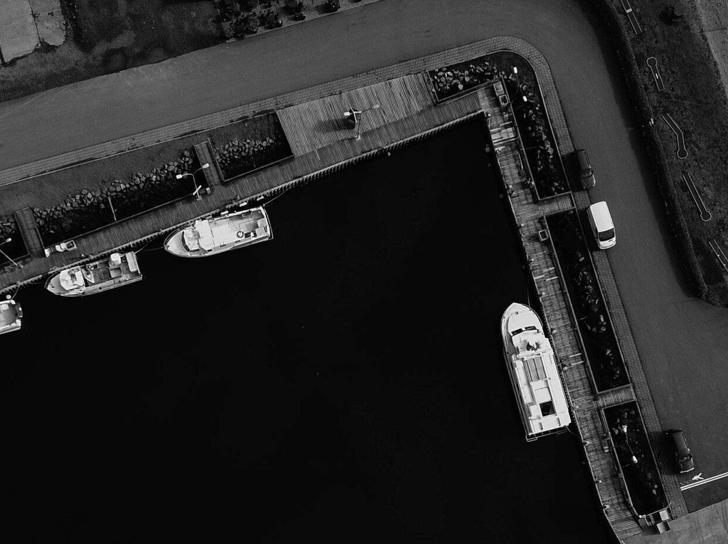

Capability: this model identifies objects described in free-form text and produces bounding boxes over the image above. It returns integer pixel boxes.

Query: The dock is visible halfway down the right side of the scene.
[477,77,643,543]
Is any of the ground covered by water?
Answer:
Yes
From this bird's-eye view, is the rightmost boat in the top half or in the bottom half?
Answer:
bottom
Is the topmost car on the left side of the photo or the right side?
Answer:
right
